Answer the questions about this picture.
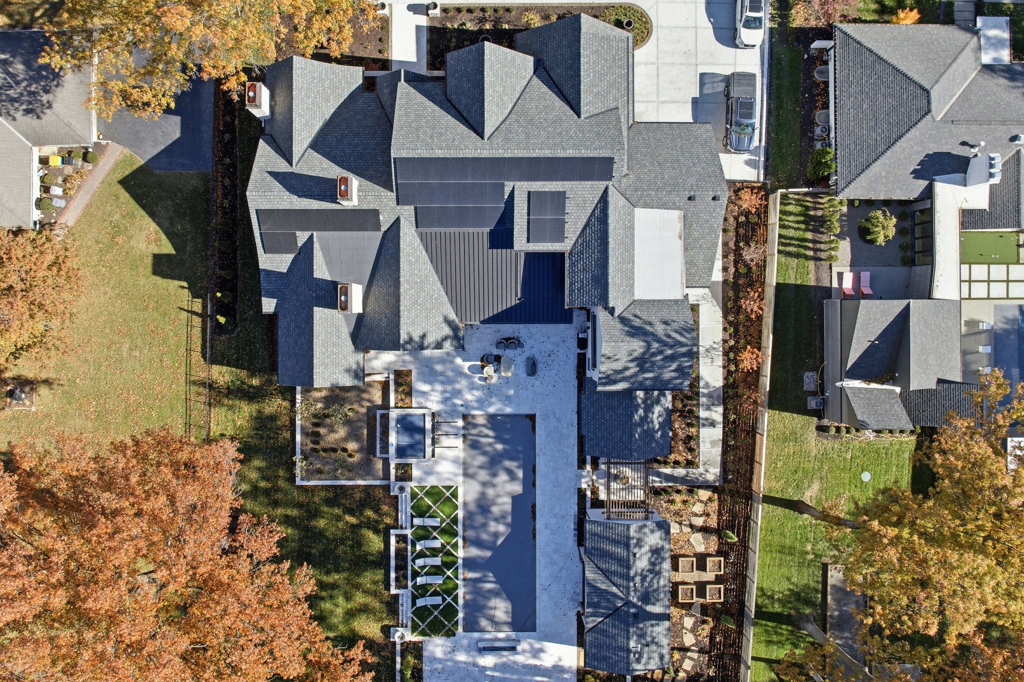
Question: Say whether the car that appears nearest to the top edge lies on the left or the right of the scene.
right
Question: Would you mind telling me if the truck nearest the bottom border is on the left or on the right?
right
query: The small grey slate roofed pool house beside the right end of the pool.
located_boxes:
[582,510,672,676]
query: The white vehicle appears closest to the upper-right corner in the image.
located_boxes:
[736,0,771,50]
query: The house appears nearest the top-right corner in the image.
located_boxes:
[806,17,1024,302]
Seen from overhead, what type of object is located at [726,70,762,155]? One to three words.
truck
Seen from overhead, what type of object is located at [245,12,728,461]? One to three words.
house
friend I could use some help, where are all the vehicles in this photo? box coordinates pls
[726,70,762,155]
[736,0,771,50]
